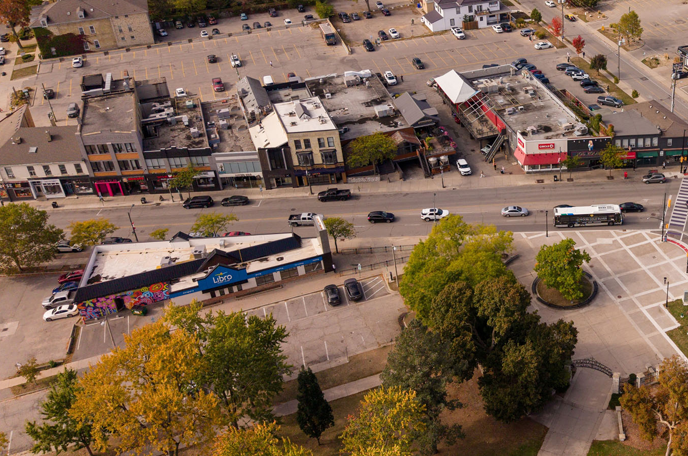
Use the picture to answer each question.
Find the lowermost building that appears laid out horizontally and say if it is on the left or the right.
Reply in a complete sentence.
The lowermost building that appears laid out horizontally appears in the left half of the scene.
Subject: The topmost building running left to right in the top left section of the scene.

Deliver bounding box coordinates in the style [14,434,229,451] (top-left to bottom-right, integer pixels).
[31,0,157,58]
